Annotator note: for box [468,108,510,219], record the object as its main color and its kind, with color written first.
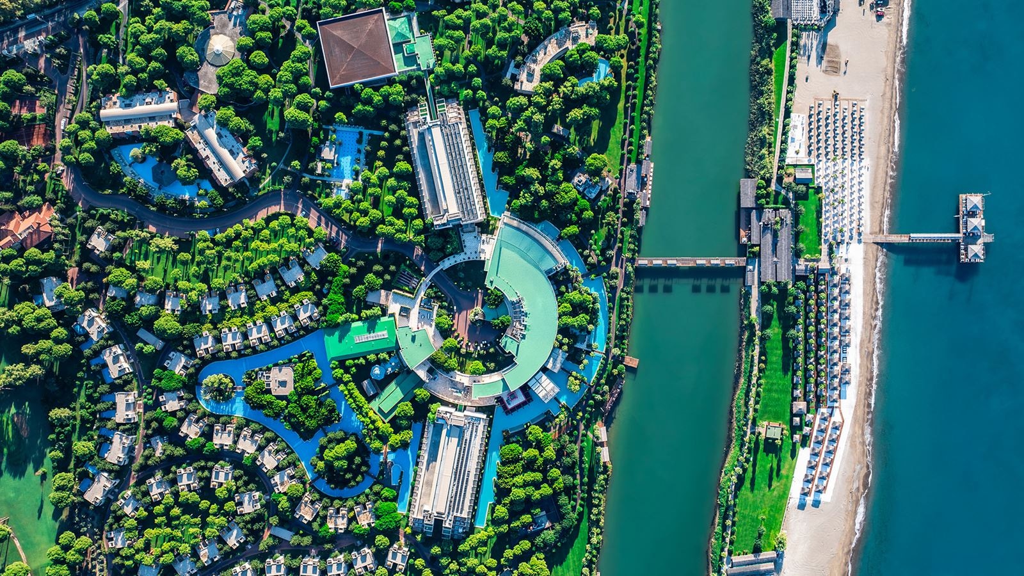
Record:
blue swimming pool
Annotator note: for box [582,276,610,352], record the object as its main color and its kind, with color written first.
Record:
blue swimming pool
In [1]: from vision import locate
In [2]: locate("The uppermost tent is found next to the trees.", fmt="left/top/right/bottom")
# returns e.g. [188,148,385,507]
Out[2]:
[206,34,237,66]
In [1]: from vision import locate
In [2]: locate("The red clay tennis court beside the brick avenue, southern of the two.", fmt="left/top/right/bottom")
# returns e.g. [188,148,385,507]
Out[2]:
[4,122,51,147]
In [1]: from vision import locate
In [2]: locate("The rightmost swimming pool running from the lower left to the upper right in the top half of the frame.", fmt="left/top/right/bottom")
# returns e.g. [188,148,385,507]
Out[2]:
[577,57,610,86]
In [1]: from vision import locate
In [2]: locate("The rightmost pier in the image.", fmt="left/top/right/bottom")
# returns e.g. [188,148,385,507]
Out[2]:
[861,192,995,262]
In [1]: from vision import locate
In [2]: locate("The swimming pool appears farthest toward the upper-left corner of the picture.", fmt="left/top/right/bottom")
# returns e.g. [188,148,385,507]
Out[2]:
[116,142,213,197]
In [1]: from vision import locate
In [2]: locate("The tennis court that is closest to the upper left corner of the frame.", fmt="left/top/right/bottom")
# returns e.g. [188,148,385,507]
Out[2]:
[8,97,46,114]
